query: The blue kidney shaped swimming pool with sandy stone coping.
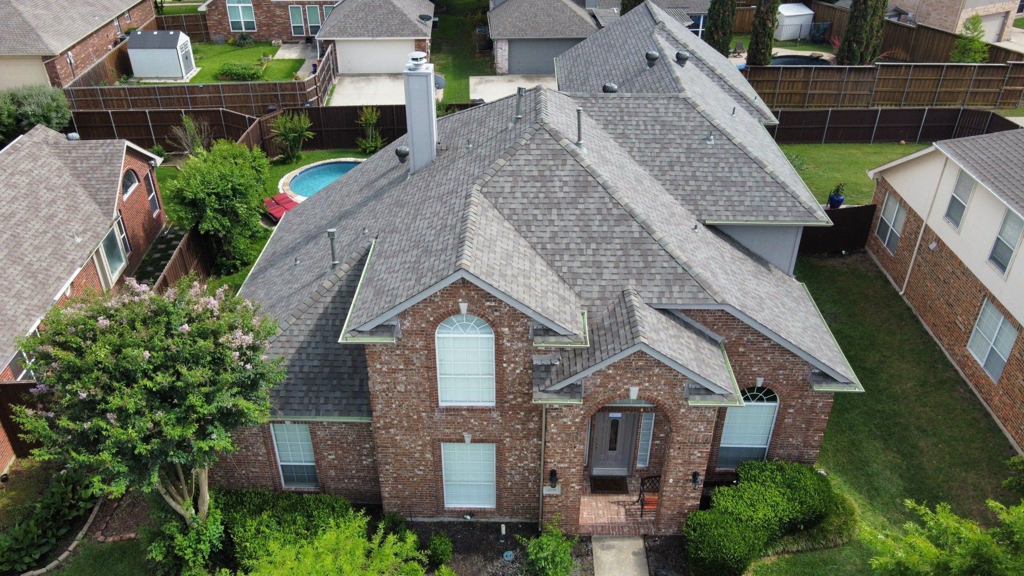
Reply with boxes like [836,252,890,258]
[279,156,372,198]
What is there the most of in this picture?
buildings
